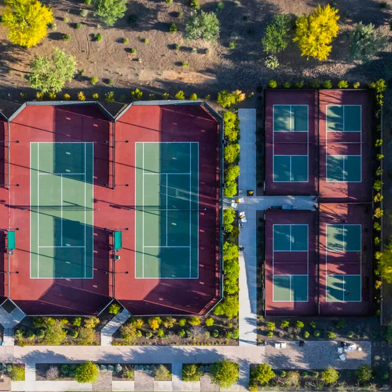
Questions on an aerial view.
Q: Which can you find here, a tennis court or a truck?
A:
tennis court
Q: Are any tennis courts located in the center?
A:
Yes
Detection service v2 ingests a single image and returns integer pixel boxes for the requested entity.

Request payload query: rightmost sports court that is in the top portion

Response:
[318,89,373,203]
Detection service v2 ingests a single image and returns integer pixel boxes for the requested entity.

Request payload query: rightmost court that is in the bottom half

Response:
[318,203,373,316]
